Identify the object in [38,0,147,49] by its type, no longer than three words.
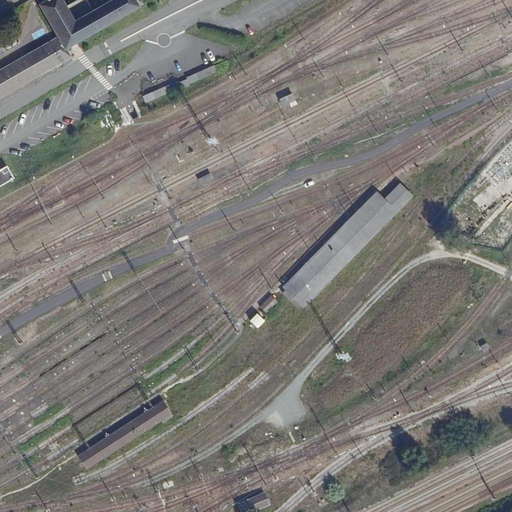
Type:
building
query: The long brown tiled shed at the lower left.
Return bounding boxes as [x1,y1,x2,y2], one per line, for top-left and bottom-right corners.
[79,400,174,470]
